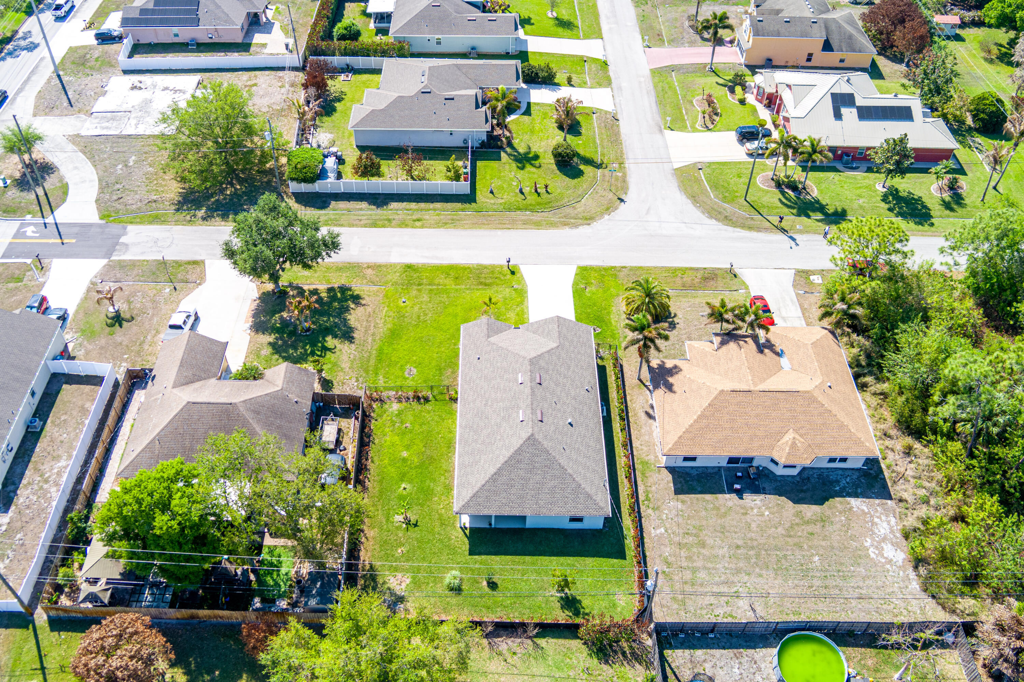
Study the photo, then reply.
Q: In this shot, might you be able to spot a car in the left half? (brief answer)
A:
Yes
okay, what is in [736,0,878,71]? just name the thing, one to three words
house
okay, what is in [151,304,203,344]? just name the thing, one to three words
truck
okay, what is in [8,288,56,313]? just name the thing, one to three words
car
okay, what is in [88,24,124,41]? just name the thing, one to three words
car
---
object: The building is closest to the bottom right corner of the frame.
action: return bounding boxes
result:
[645,326,882,478]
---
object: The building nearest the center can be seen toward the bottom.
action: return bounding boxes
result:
[452,315,613,530]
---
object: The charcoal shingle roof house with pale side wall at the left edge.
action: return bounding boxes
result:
[0,305,76,485]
